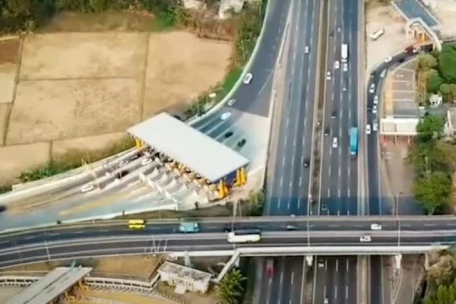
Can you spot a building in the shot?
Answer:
Yes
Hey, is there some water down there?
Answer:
No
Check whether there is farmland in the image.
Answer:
Yes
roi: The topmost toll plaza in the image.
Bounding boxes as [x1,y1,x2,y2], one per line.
[392,0,439,39]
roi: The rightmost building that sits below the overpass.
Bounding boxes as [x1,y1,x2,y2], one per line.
[159,263,211,294]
